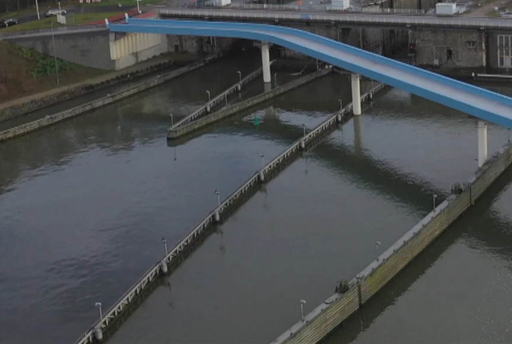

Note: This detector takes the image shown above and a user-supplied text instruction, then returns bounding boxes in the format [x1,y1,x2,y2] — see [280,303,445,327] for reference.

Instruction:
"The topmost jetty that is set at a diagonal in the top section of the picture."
[166,56,281,126]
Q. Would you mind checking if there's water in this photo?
Yes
